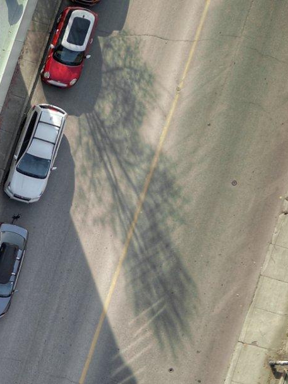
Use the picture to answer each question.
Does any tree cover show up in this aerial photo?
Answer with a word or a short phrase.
No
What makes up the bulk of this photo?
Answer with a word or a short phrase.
paved ground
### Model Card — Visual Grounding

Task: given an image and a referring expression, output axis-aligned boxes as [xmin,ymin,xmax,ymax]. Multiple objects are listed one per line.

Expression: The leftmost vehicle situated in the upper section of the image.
[0,104,65,203]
